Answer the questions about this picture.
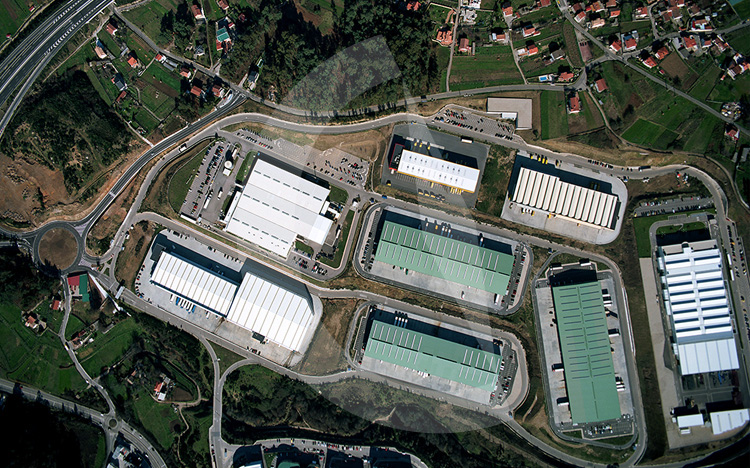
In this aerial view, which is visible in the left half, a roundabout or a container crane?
roundabout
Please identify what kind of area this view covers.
residential area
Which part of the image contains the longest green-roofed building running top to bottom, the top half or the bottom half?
bottom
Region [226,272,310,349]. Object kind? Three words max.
building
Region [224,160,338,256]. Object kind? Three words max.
building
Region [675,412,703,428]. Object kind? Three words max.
shed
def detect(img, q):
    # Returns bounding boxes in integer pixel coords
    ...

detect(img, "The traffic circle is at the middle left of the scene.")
[32,223,84,275]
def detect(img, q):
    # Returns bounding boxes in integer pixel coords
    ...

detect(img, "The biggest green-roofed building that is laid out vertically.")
[550,281,620,423]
